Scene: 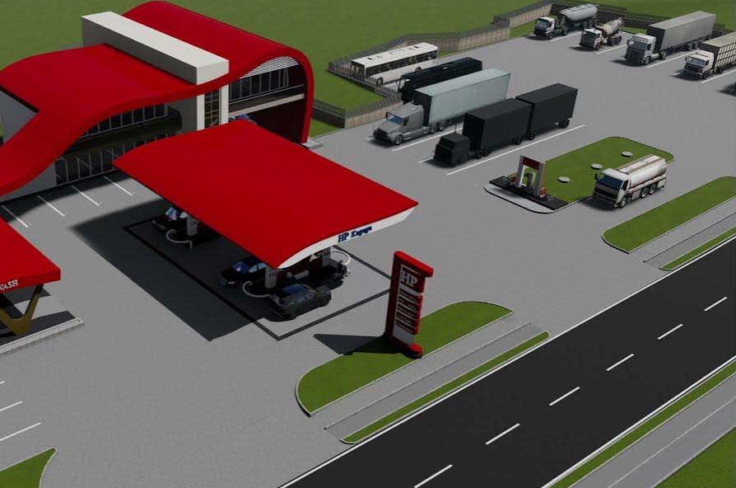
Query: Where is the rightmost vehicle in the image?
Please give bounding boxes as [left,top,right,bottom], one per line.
[682,27,736,77]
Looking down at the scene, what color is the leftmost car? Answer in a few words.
black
